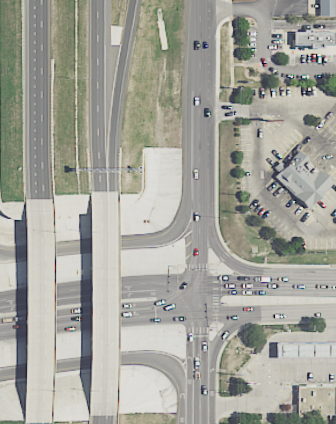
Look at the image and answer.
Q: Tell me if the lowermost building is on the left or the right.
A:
right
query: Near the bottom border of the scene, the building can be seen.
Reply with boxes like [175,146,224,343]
[298,384,336,418]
